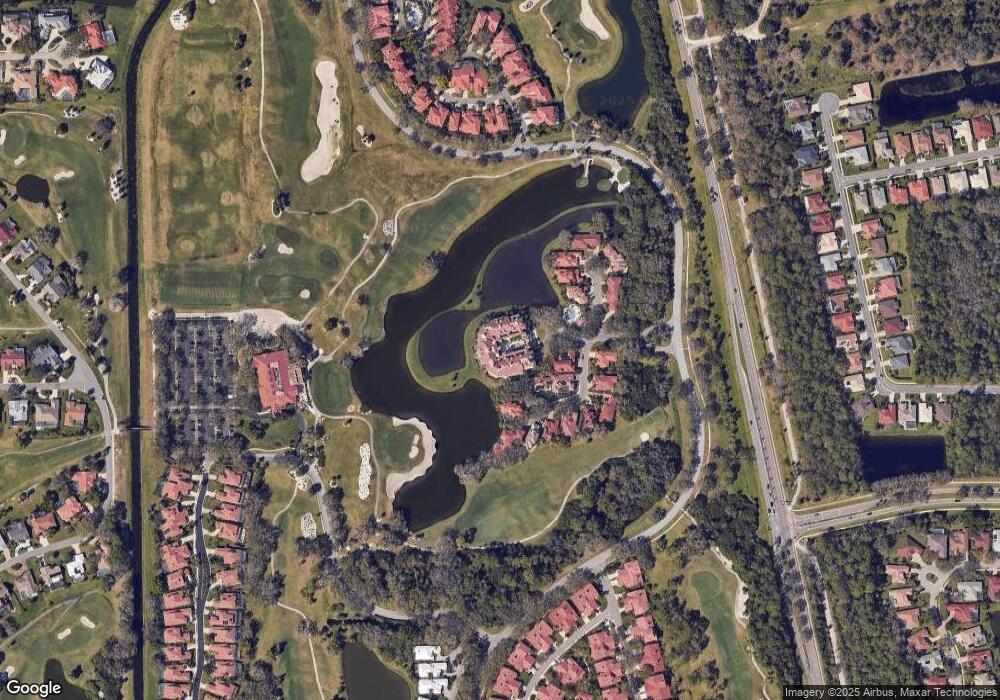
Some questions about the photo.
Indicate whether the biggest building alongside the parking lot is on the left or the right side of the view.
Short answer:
left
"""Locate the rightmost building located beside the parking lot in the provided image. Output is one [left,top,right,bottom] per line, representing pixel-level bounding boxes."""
[250,350,296,412]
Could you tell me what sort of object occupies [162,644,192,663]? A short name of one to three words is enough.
house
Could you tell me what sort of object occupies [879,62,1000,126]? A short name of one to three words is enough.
pond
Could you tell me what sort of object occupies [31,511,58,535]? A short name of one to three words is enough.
house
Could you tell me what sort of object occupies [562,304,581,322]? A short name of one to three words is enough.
swimming pool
